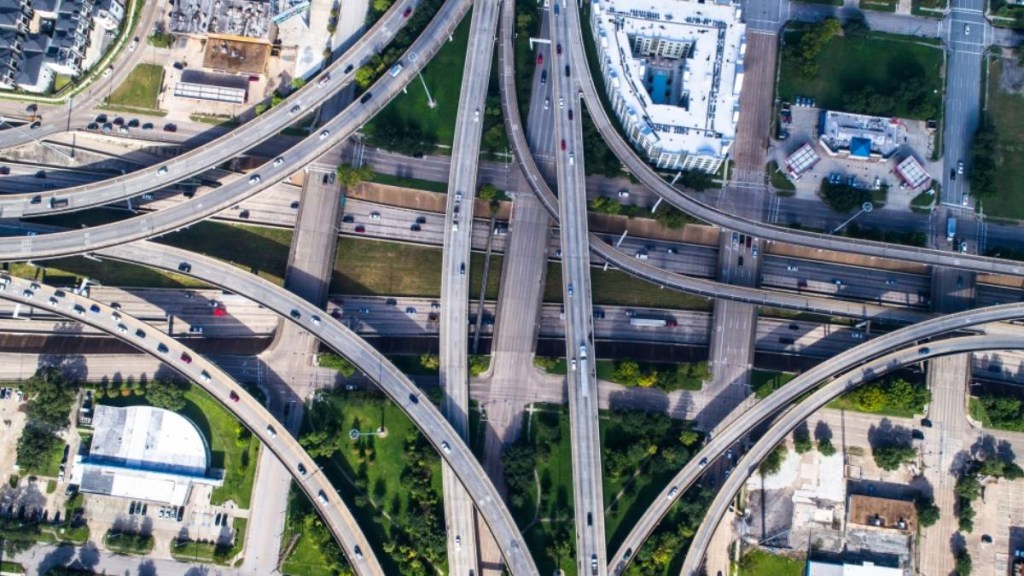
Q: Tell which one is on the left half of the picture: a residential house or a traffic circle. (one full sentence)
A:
There is a residential house on the left half of the picture.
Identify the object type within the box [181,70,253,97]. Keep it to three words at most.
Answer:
shed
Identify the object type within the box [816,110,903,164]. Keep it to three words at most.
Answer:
gas station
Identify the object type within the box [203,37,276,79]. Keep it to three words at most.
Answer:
building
